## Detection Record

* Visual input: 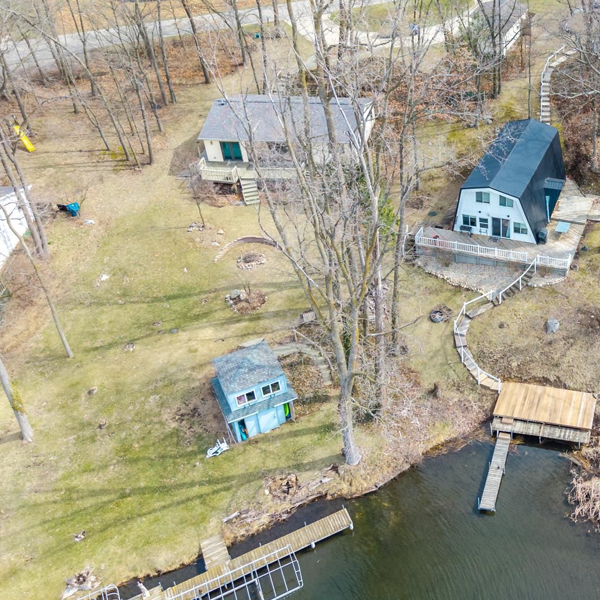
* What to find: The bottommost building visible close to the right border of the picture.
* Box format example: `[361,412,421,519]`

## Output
[491,383,596,456]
